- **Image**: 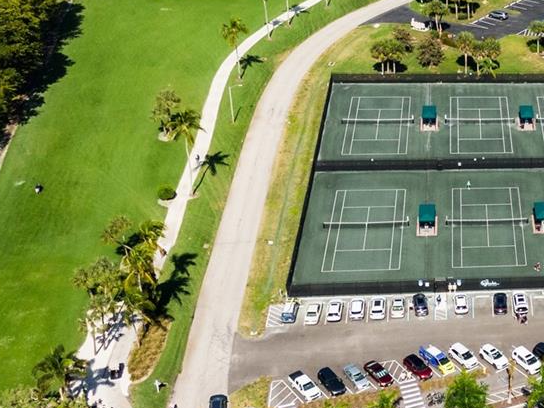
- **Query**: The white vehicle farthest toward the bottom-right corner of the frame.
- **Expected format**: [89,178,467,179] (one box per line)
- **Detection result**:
[512,345,543,374]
